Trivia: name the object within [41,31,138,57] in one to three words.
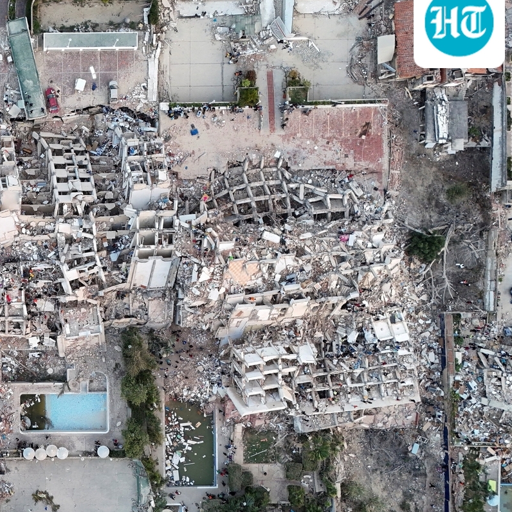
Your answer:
building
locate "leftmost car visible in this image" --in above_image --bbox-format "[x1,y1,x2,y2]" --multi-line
[44,85,58,112]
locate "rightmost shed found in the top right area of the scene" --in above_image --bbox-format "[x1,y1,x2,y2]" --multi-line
[484,83,506,193]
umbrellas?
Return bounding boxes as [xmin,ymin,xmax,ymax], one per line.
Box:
[23,447,34,459]
[34,448,46,460]
[56,447,68,460]
[45,445,57,457]
[96,445,109,458]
